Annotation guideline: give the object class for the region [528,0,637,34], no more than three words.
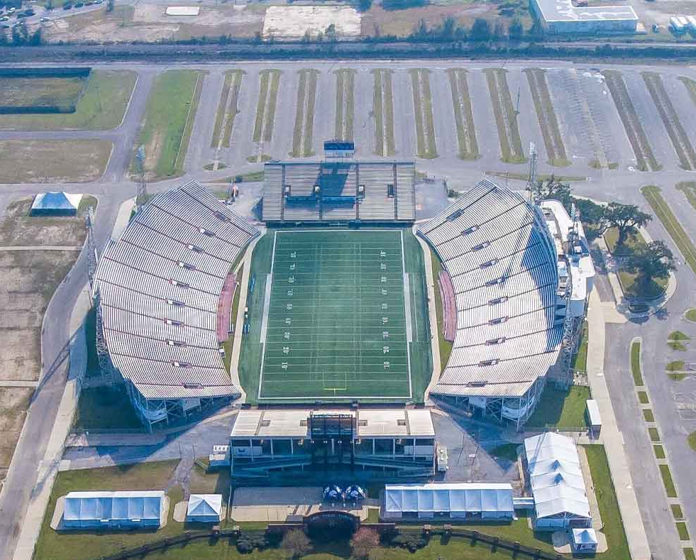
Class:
building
